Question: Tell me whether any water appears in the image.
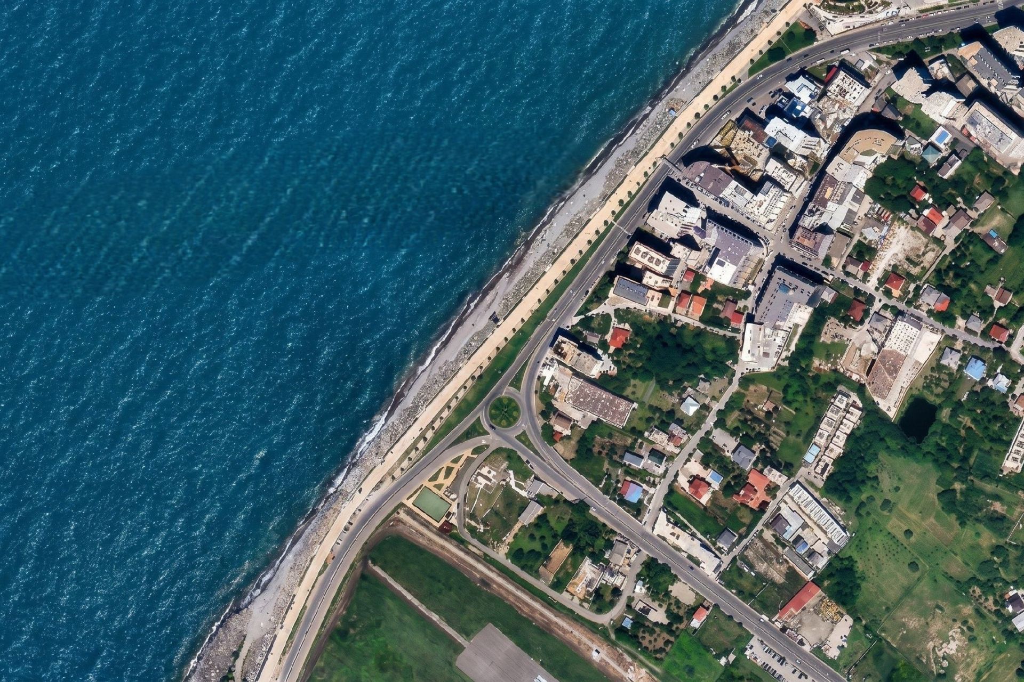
Yes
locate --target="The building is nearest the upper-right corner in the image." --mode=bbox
[993,26,1024,61]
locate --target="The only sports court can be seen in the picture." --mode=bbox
[412,486,452,523]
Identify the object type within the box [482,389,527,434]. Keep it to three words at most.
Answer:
roundabout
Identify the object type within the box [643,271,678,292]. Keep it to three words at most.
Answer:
building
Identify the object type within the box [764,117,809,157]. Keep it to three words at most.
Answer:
building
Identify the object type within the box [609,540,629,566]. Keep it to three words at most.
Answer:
house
